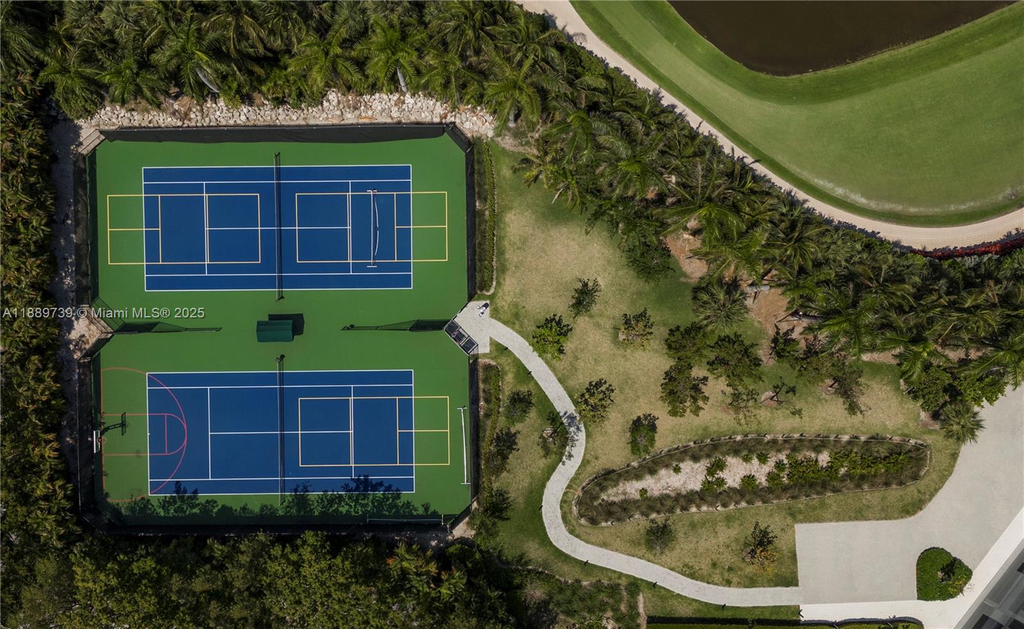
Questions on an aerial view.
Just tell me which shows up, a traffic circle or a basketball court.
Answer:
basketball court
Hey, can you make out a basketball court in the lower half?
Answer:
Yes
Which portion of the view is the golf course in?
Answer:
top right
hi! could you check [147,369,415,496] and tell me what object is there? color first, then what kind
blue tennis court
